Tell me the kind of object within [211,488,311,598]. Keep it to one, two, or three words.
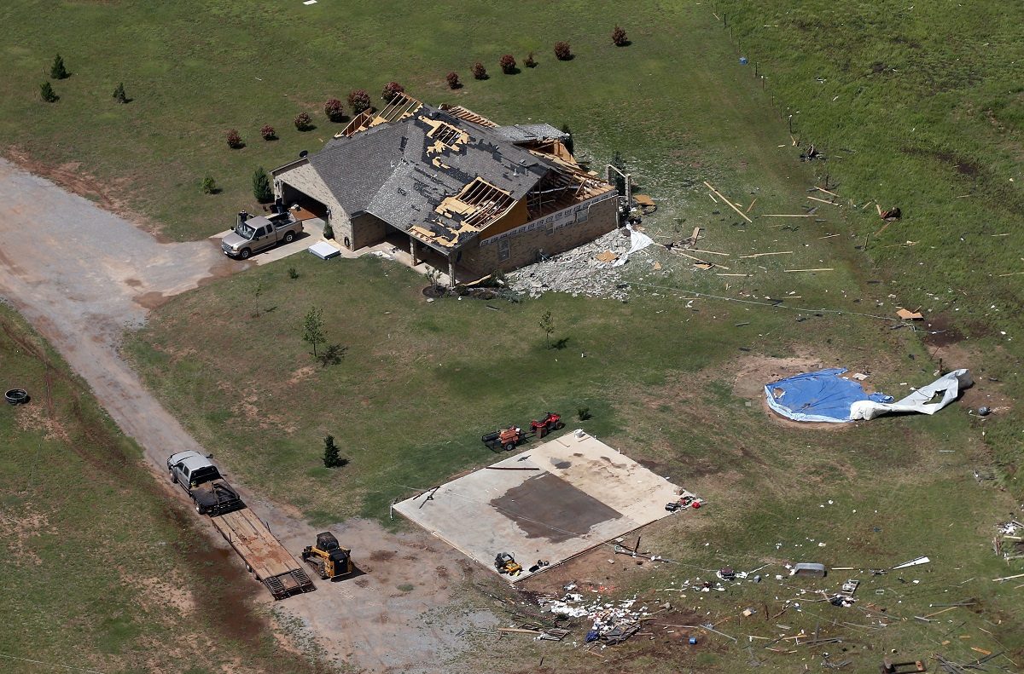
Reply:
trailer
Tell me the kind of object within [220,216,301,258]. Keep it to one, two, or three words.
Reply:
truck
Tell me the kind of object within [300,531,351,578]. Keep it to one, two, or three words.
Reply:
work vehicle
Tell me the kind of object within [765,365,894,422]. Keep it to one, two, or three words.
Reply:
swimming pool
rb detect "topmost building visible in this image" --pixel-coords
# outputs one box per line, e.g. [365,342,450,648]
[266,91,620,286]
